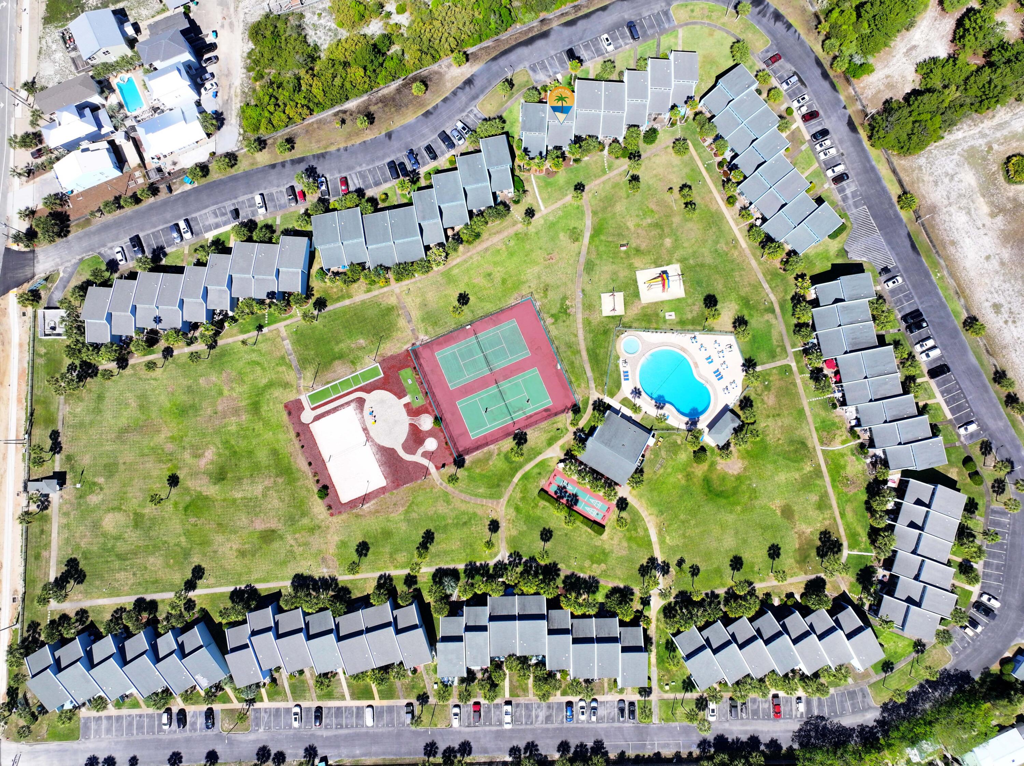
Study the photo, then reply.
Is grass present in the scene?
Yes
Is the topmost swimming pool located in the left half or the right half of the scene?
left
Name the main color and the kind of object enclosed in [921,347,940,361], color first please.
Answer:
white car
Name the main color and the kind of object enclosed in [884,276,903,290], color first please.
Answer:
white car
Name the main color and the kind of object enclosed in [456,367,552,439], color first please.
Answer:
green tennis court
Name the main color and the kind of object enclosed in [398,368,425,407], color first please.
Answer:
green sports court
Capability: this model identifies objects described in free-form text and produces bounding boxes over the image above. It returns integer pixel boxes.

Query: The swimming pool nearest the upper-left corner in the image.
[115,75,146,113]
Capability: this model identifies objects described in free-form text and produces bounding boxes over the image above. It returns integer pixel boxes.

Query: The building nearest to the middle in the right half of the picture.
[577,410,655,486]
